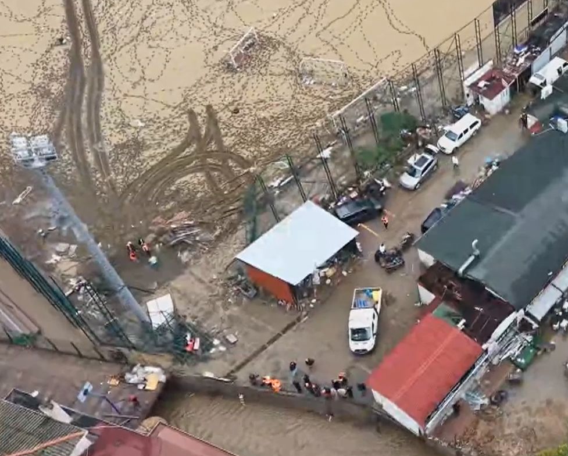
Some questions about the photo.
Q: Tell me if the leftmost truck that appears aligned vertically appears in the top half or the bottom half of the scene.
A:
bottom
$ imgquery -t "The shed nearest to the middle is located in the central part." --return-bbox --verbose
[235,201,361,305]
